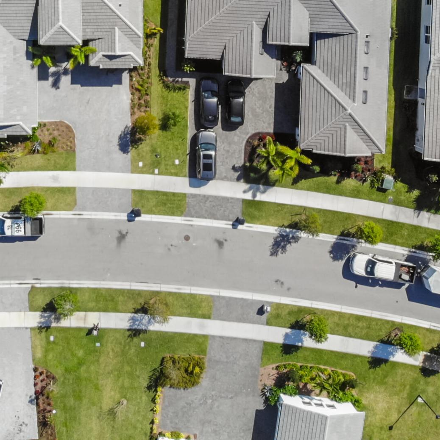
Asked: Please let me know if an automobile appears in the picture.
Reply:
Yes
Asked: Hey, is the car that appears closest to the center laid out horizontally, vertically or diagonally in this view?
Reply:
vertically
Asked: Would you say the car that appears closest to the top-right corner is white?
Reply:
No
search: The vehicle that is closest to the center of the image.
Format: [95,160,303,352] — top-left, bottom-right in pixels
[196,129,219,181]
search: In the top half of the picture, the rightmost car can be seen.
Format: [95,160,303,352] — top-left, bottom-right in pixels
[225,79,249,128]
